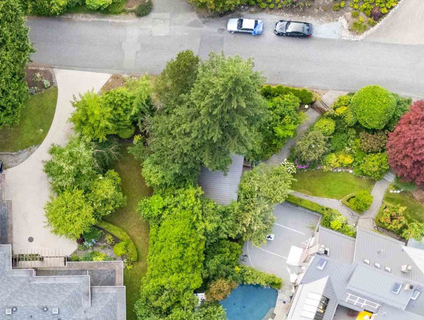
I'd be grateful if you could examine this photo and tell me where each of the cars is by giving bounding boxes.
[0,159,7,173]
[273,20,315,37]
[227,17,263,35]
